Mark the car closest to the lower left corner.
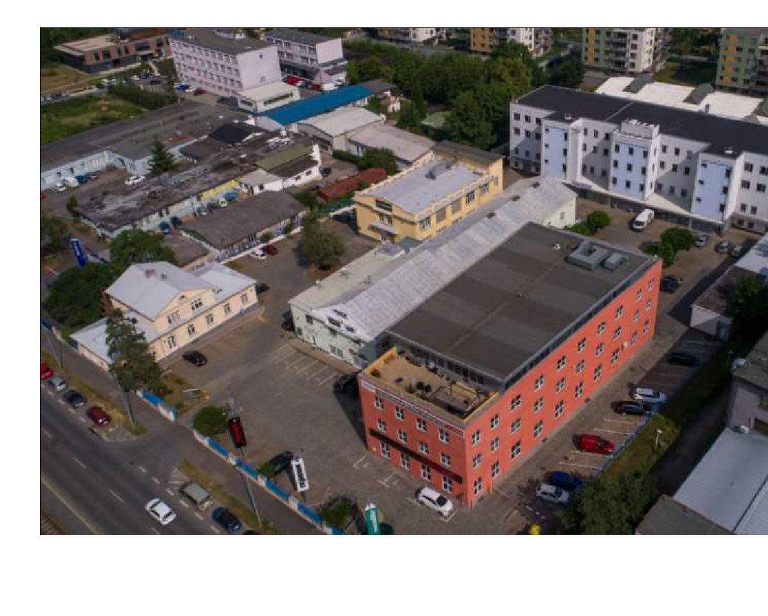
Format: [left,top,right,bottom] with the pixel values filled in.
[138,494,175,524]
